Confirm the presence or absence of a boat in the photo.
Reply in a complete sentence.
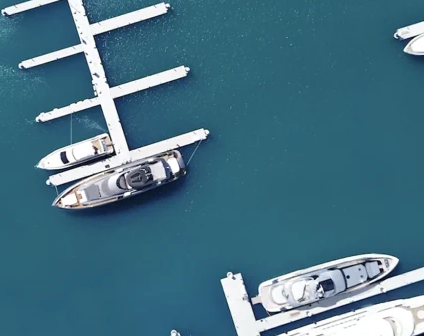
Yes, there is a boat in the image.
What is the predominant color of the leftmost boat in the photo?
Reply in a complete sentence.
The leftmost boat is white.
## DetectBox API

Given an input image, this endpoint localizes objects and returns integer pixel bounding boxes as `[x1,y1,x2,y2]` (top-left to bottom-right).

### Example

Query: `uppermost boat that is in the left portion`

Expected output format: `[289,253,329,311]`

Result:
[38,118,114,168]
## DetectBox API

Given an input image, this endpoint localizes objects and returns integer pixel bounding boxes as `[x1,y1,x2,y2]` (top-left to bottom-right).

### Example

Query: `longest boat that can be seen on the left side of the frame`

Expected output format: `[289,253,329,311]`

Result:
[53,138,202,206]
